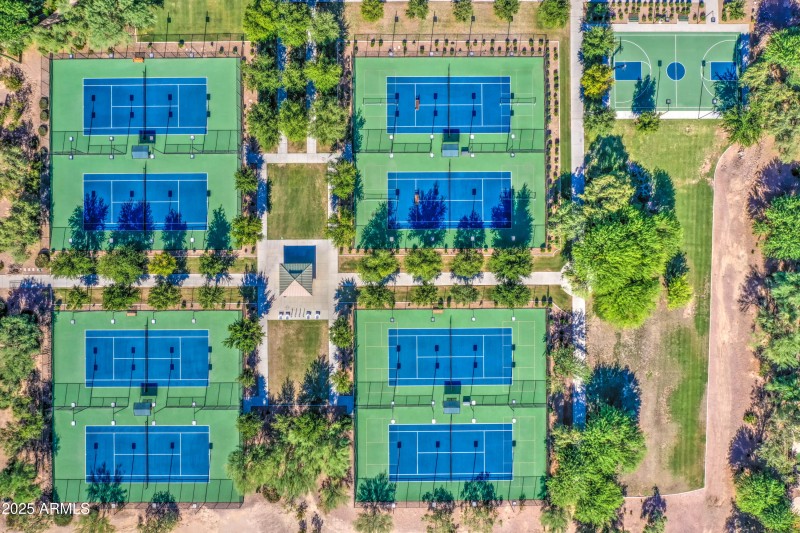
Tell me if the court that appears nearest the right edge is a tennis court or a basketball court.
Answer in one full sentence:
It looks like the court that appears nearest the right edge is a basketball court.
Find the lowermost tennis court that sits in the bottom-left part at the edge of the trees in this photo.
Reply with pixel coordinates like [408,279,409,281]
[53,406,243,504]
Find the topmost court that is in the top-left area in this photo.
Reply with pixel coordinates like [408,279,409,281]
[51,57,241,155]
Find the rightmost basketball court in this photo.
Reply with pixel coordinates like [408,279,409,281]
[609,23,748,120]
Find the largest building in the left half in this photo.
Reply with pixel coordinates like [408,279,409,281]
[278,263,312,297]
